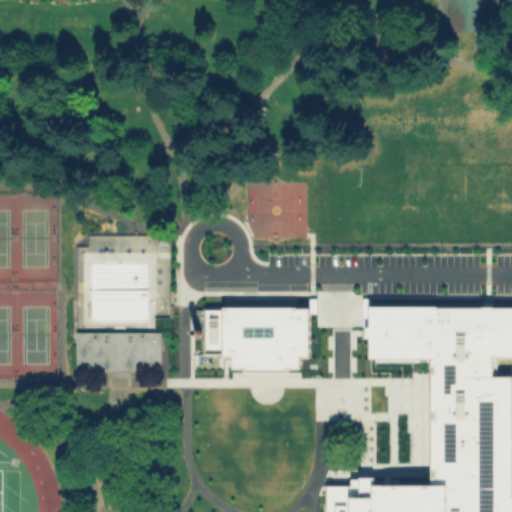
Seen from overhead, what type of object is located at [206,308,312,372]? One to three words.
building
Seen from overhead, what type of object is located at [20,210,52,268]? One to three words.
tennis court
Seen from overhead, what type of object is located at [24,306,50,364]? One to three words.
tennis court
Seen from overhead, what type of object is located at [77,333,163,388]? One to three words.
building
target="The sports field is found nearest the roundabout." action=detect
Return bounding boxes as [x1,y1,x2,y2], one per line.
[316,88,512,244]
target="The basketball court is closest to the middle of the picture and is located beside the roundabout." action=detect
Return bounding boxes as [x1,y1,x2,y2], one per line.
[247,180,308,242]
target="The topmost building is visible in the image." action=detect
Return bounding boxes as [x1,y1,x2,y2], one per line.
[78,236,172,330]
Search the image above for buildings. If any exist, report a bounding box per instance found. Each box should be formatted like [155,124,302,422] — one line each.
[77,333,163,388]
[78,236,172,330]
[320,306,512,512]
[206,308,312,372]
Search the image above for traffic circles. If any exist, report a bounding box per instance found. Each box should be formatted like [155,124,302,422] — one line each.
[184,217,270,291]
